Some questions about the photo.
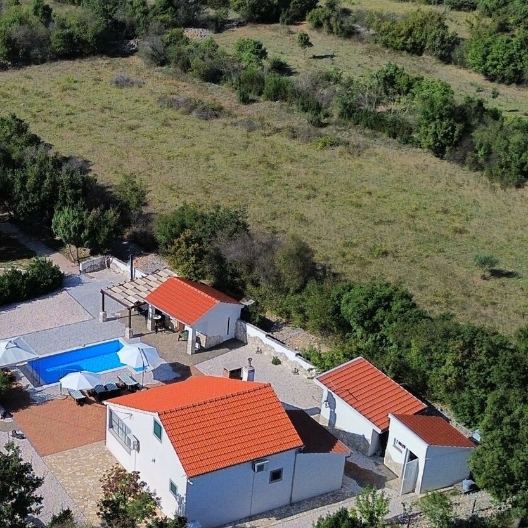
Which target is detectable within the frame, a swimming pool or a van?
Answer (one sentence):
Of the two, only a swimming pool appears.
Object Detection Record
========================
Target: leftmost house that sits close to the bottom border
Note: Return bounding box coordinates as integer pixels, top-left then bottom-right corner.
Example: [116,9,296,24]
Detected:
[101,377,353,528]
